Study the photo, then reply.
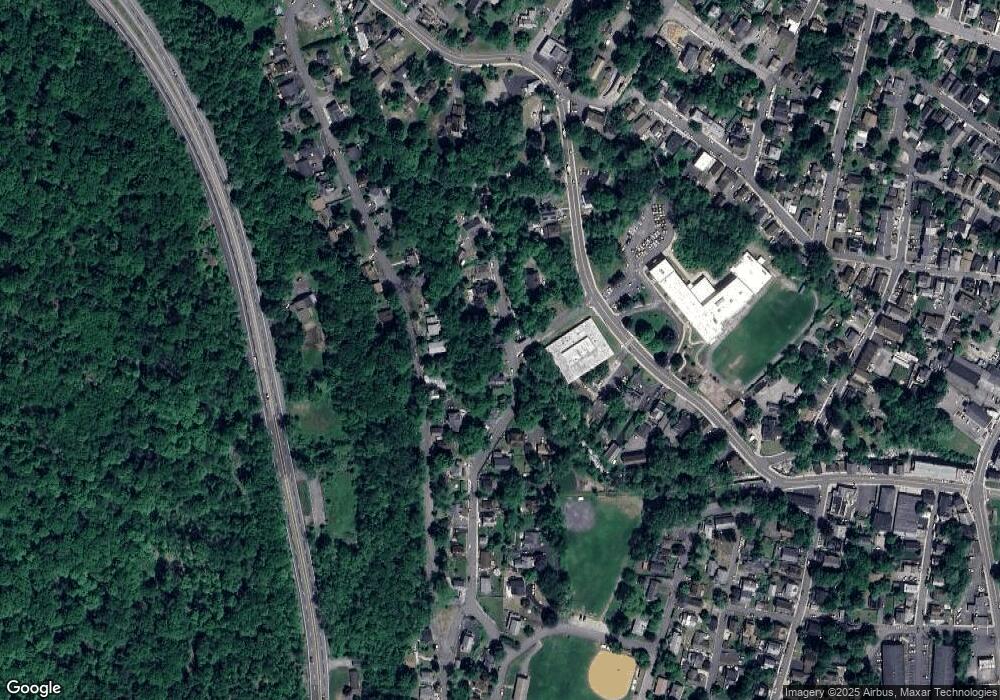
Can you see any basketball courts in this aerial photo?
No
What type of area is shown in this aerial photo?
residential area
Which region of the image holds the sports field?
right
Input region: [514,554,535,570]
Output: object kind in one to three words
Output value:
house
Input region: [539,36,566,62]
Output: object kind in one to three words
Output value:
building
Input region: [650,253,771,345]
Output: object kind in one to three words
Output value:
building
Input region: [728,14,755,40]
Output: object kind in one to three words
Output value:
house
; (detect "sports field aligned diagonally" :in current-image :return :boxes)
[712,275,818,389]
